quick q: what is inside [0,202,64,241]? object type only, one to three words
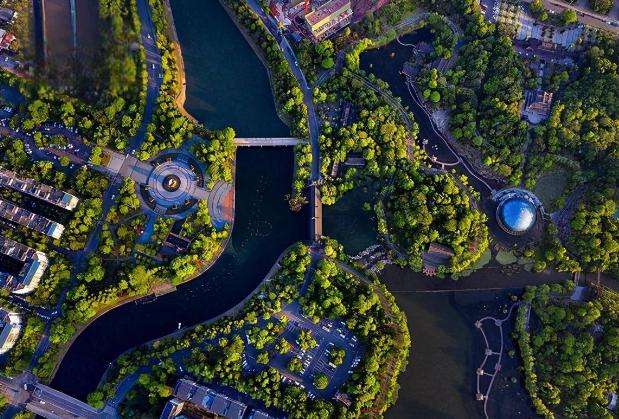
building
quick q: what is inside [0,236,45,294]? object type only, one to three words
building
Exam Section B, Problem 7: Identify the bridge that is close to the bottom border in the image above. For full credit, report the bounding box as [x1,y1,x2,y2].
[20,379,109,419]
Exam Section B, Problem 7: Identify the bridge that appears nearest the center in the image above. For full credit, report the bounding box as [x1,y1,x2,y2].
[309,184,323,247]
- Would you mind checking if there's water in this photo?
Yes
